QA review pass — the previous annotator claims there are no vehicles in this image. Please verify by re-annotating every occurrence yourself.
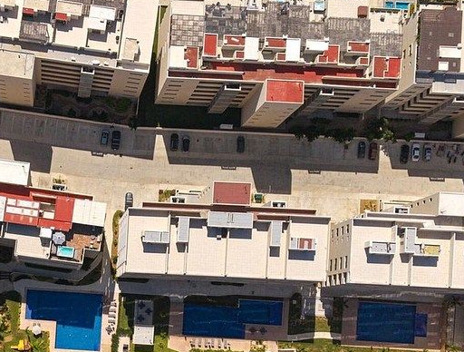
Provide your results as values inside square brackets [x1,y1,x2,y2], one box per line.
[125,191,134,211]
[183,134,191,153]
[236,135,244,153]
[170,132,178,151]
[367,141,377,161]
[101,128,109,147]
[399,145,409,164]
[423,145,432,161]
[113,130,120,151]
[357,140,366,160]
[411,144,420,162]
